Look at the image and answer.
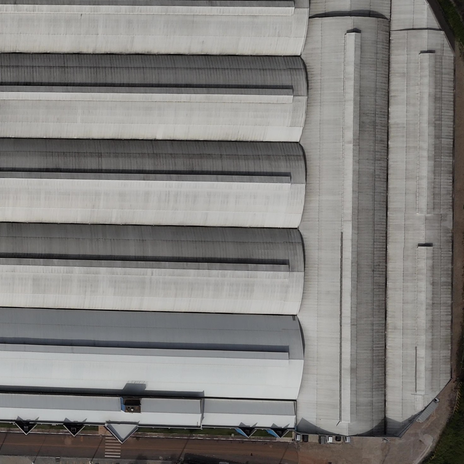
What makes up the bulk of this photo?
buildings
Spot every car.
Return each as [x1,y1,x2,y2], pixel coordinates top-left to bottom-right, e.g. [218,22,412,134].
[318,434,326,446]
[294,432,301,444]
[343,436,350,445]
[333,436,342,443]
[325,434,332,446]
